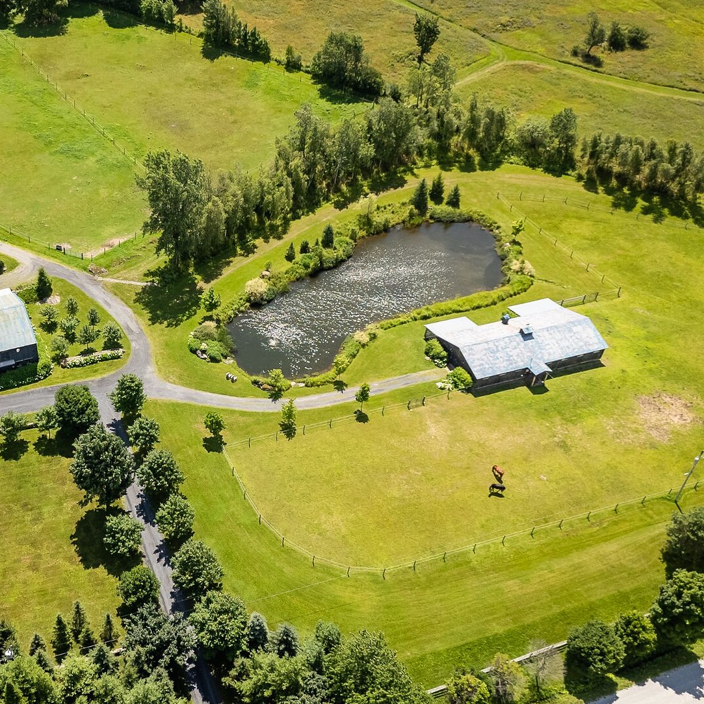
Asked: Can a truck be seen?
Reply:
No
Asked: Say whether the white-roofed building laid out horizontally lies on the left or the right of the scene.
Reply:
right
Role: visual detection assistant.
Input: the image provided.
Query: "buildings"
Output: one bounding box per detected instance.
[424,298,609,391]
[0,288,38,374]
